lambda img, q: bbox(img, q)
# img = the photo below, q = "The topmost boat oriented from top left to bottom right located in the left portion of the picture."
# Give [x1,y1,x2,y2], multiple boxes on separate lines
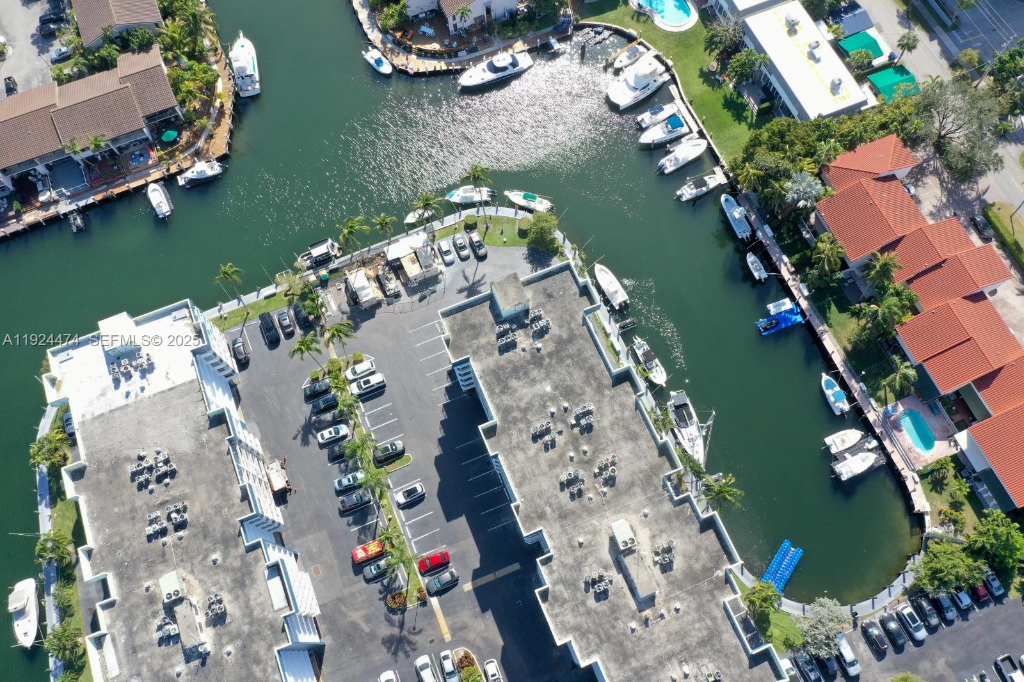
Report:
[364,46,391,75]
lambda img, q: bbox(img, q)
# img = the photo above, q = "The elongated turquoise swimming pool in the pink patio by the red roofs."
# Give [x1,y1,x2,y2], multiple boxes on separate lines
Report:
[899,407,939,454]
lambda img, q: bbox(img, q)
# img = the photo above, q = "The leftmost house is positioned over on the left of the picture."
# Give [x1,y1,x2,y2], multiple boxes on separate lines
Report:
[0,80,74,177]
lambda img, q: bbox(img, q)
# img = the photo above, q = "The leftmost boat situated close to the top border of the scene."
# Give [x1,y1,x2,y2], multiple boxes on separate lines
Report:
[232,28,263,106]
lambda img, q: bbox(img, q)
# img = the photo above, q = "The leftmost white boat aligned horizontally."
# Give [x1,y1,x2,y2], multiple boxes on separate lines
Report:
[182,159,227,179]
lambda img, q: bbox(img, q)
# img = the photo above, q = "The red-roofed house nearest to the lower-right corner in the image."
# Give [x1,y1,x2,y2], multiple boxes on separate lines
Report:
[952,400,1024,510]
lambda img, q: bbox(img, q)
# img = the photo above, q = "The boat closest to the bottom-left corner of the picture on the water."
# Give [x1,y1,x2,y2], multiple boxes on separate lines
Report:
[3,570,44,648]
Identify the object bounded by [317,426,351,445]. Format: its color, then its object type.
white car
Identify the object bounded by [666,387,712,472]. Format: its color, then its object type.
white boat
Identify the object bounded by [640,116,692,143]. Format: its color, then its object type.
white boat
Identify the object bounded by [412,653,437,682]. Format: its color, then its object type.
white car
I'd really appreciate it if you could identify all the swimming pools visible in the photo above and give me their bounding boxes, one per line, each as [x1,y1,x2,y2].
[632,0,692,27]
[899,407,939,454]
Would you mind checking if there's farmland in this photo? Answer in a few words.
No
